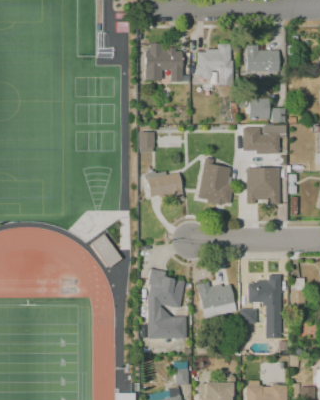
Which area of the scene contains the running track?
bottom left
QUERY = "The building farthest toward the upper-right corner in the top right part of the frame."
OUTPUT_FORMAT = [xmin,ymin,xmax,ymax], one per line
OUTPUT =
[240,45,280,76]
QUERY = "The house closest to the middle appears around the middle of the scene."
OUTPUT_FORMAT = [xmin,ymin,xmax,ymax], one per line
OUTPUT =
[144,168,182,199]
